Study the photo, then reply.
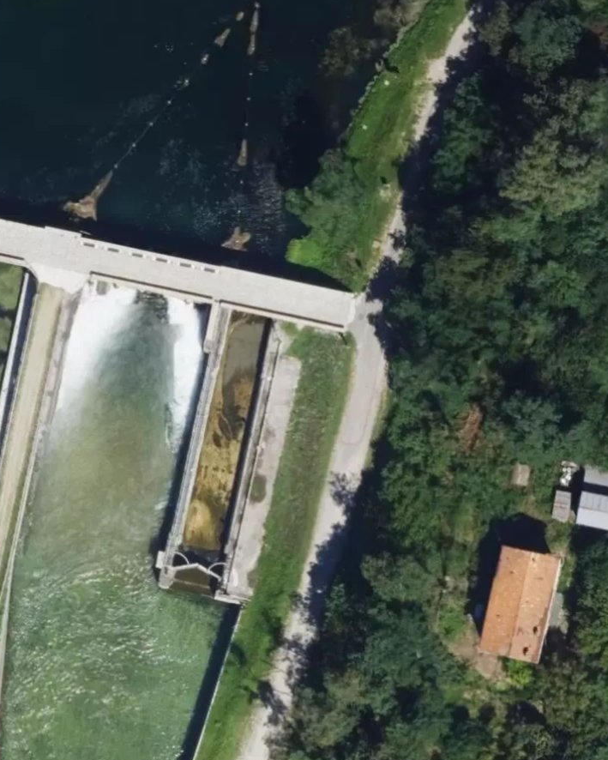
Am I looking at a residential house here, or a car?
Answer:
residential house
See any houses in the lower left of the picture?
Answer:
No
